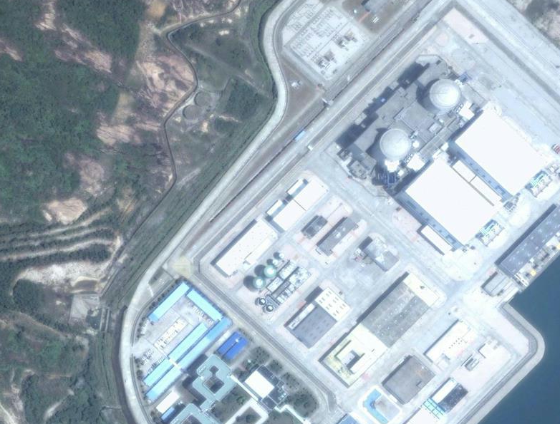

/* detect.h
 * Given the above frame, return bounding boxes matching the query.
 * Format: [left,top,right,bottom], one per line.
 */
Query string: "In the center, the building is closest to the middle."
[272,200,305,232]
